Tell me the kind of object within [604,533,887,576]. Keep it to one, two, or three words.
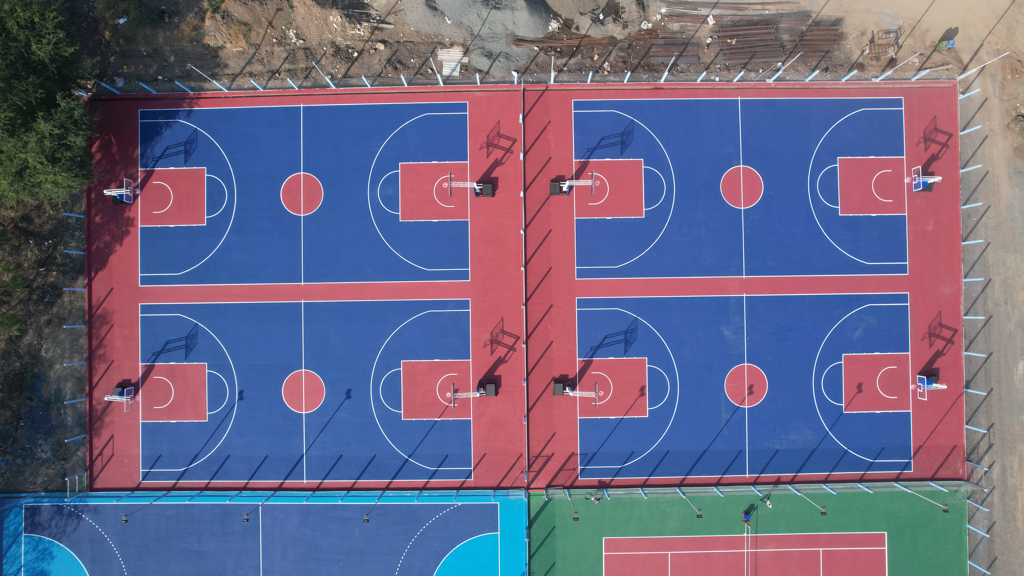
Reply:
tennis court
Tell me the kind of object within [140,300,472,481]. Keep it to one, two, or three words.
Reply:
basketball court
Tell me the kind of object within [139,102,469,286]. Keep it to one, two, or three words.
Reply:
basketball court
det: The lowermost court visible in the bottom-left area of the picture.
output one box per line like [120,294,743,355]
[24,503,499,576]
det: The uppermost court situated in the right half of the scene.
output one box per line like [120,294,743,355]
[573,98,908,279]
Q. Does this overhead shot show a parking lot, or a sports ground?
sports ground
